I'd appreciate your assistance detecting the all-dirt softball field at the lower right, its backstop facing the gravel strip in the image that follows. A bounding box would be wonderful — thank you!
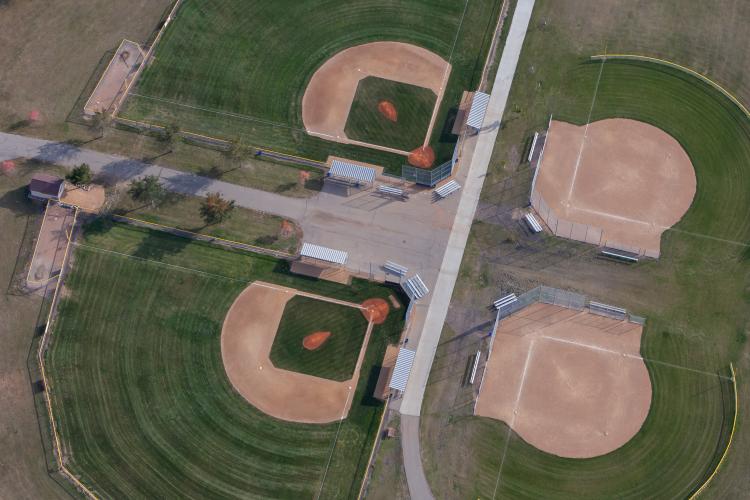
[467,302,737,500]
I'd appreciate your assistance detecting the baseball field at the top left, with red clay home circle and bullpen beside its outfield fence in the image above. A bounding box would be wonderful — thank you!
[116,0,503,184]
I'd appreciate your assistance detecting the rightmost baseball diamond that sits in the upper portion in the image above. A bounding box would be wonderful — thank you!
[532,58,750,259]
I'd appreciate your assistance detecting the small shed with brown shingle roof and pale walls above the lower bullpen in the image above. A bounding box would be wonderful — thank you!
[29,175,63,200]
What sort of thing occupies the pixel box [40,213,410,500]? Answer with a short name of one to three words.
baseball field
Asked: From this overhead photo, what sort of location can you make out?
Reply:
sports ground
